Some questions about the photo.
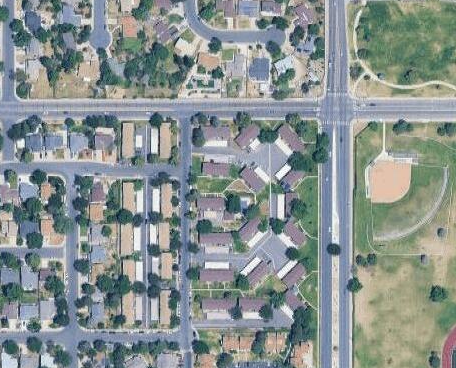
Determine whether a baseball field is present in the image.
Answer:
Yes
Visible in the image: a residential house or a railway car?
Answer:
residential house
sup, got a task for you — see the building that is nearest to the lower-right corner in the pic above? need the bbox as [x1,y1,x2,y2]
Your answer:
[290,343,313,368]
